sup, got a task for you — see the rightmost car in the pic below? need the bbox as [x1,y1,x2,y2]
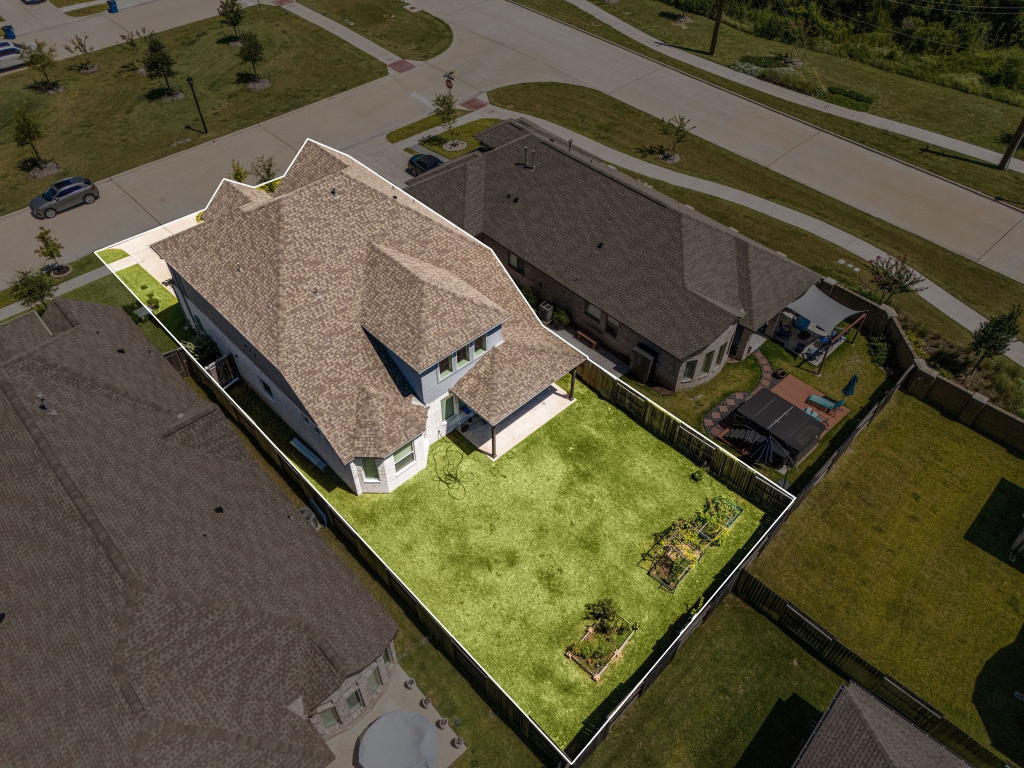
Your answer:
[407,149,449,174]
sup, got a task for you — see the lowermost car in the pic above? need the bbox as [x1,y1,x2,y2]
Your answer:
[27,174,99,219]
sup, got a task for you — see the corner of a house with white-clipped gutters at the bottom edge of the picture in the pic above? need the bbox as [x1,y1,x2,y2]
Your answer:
[779,679,964,768]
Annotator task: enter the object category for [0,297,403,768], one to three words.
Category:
house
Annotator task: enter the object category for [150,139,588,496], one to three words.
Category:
house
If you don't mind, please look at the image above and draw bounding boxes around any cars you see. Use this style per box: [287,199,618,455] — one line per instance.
[0,56,21,72]
[407,149,449,174]
[27,174,99,219]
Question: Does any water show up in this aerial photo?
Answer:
No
